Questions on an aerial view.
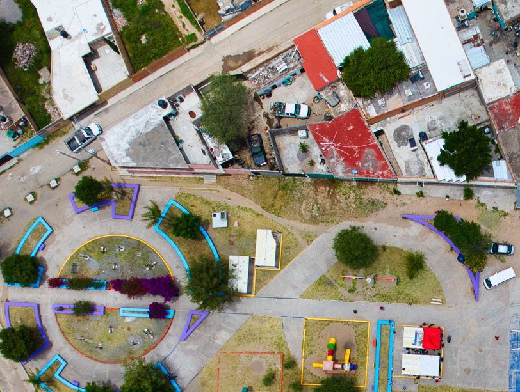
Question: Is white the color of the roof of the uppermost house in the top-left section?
Yes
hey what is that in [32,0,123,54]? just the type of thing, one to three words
house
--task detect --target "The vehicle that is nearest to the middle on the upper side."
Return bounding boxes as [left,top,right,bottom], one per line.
[248,132,266,167]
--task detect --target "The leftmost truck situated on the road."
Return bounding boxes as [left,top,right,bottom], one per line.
[62,124,103,151]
